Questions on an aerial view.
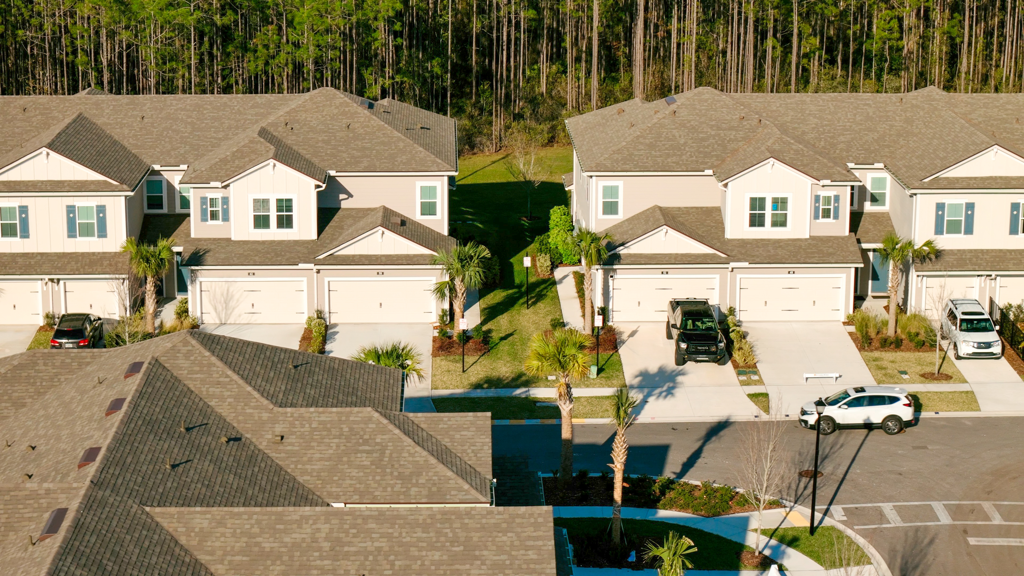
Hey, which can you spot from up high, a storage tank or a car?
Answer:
car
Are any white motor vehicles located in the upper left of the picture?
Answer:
No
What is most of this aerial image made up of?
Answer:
buildings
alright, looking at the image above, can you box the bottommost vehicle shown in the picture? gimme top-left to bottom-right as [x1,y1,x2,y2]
[798,383,920,435]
